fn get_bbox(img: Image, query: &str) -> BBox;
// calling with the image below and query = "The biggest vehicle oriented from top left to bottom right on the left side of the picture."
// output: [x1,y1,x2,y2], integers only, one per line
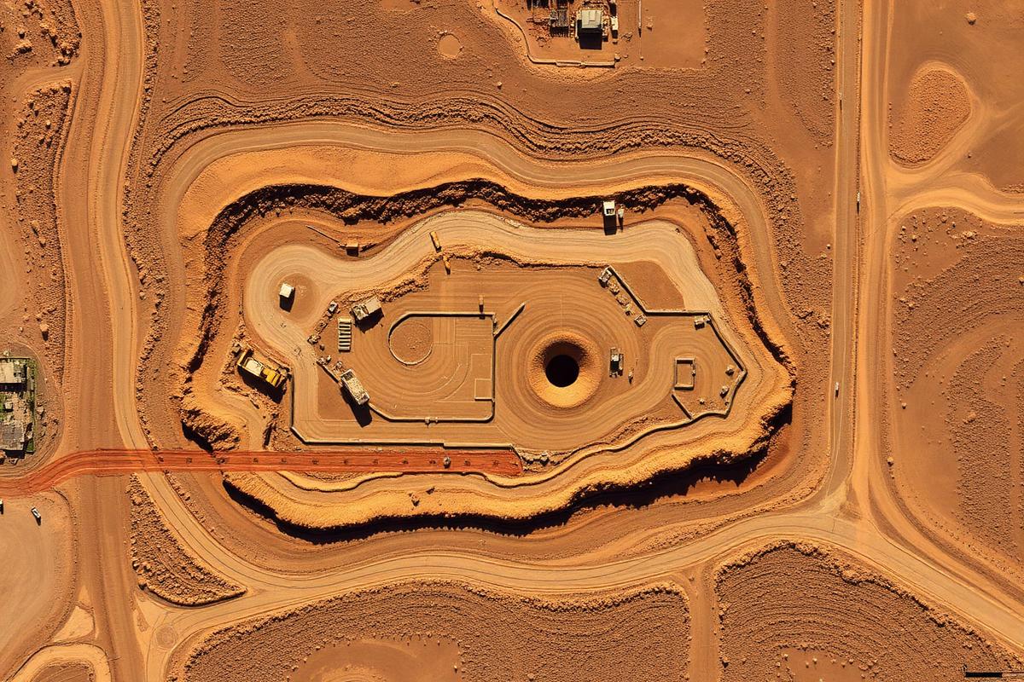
[231,347,287,391]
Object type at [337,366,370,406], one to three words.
truck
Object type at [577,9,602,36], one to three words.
shed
